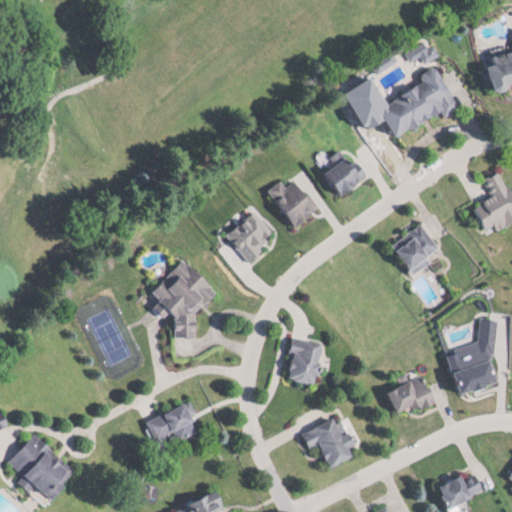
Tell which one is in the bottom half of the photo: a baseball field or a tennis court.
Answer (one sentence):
The feature located in the bottom half of the photo is a tennis court.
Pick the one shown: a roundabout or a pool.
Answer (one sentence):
Visible in the photo is a pool.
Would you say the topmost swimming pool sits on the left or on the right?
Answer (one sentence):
The topmost swimming pool is on the right side of the image.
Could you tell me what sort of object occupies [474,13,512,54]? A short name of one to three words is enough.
swimming pool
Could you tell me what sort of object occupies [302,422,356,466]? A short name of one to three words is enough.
house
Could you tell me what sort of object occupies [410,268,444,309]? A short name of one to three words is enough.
swimming pool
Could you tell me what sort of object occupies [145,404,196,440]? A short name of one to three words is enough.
house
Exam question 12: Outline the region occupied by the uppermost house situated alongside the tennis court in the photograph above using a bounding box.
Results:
[154,260,218,338]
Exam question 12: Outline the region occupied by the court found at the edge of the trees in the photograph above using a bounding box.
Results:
[76,295,144,379]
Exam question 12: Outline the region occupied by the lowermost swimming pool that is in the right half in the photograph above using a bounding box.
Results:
[442,320,474,350]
